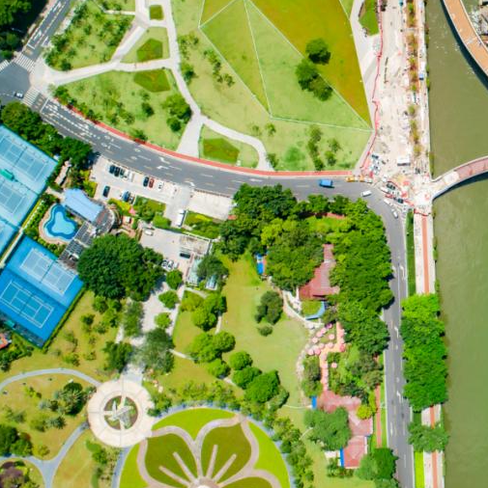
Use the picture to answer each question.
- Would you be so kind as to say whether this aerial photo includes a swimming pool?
Yes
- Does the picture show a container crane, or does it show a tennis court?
tennis court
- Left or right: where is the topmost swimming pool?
left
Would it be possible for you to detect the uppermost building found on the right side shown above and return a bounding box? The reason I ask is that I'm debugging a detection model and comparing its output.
[299,263,340,300]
